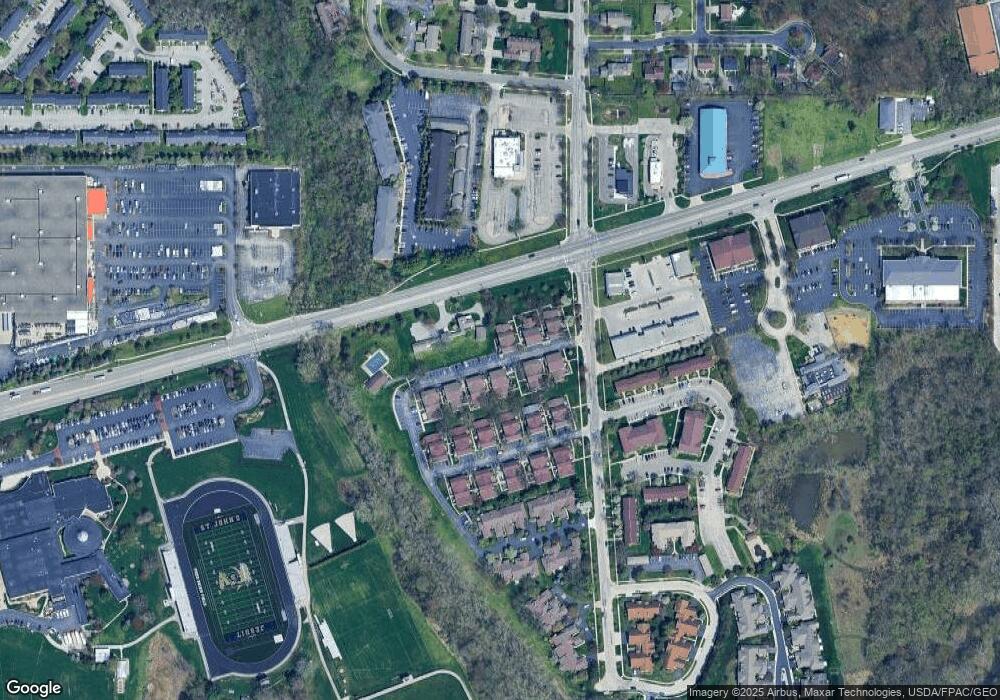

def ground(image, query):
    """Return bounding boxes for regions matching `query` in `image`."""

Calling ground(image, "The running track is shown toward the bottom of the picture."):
[164,478,299,679]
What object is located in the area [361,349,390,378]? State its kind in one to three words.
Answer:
swimming pool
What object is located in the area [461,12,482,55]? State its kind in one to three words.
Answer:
house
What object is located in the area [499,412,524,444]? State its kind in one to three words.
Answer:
house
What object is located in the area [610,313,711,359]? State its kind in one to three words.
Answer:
building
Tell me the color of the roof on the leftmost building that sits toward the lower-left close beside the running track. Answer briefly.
blue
